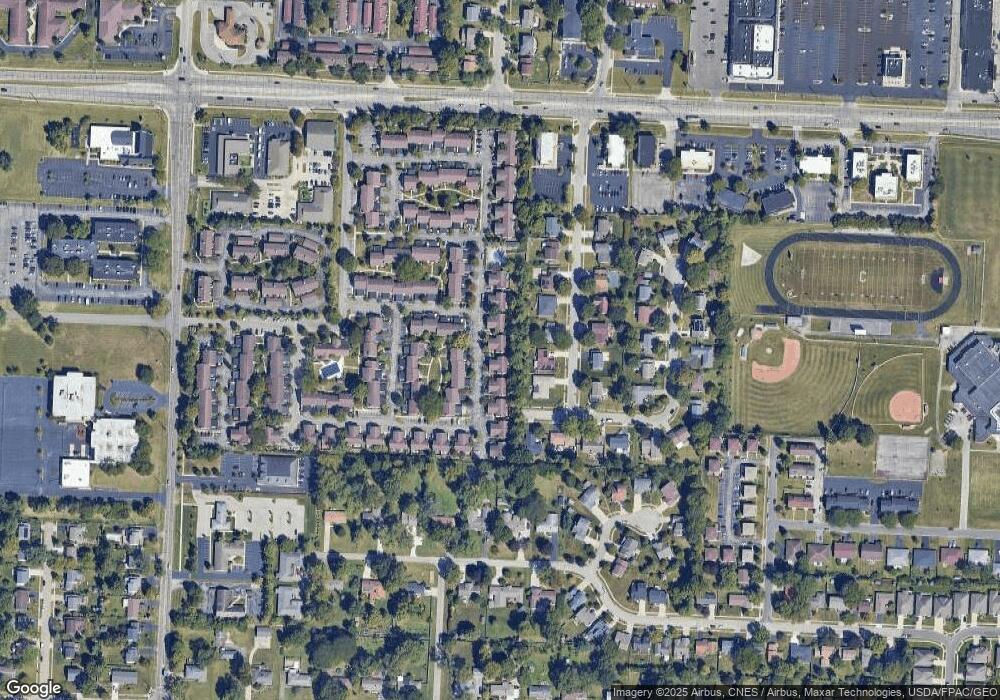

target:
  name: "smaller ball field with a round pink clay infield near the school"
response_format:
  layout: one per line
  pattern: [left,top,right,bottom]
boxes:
[854,354,922,428]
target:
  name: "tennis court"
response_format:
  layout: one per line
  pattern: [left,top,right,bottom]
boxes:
[876,435,928,480]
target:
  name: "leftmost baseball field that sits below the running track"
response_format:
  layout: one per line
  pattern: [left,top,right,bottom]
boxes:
[737,327,860,432]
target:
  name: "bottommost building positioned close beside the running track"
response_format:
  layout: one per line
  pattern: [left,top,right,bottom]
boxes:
[947,333,1000,442]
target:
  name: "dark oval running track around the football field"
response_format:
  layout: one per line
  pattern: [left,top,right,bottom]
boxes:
[755,232,961,320]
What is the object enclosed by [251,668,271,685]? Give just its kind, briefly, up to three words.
house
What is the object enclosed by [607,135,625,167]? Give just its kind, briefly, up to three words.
building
